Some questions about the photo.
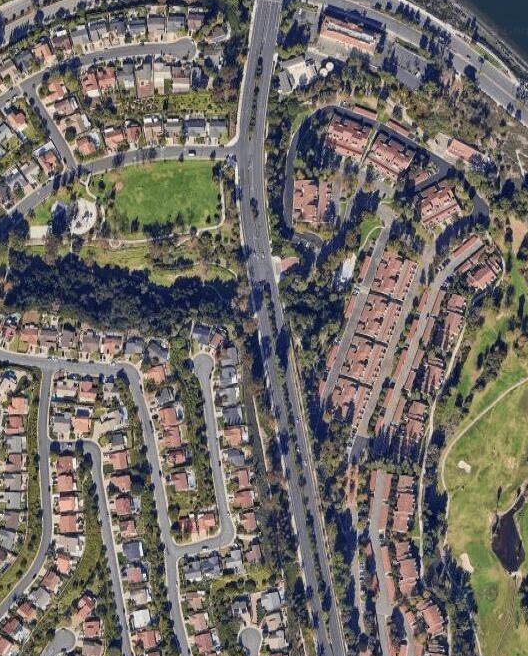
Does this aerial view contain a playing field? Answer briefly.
Yes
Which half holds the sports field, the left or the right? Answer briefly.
left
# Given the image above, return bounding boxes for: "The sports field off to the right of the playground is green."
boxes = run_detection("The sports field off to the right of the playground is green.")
[109,160,218,228]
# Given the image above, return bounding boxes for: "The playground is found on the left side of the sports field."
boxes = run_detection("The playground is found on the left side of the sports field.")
[71,198,97,234]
